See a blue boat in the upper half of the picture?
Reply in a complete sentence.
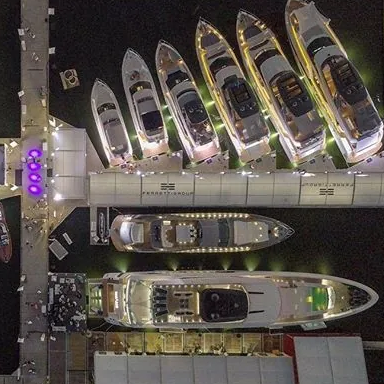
No, the scene shows no blue boat in the upper half of the picture.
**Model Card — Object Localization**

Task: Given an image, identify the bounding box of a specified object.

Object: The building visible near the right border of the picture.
[294,335,368,384]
